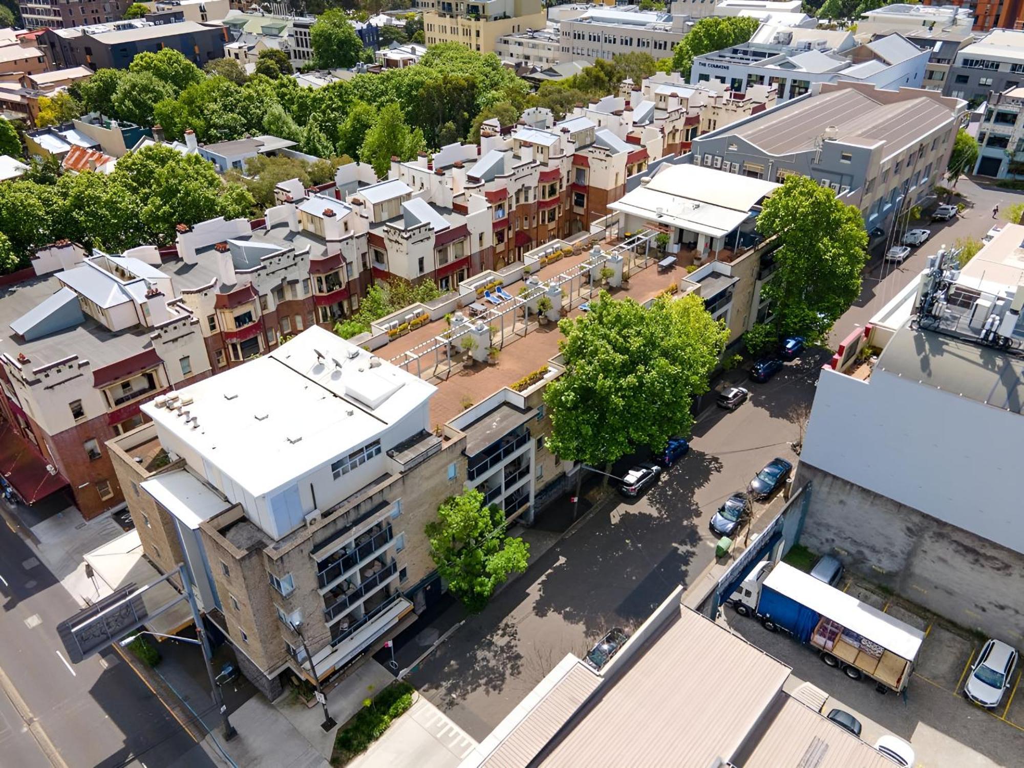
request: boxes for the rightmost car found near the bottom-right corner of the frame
[966,636,1024,709]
